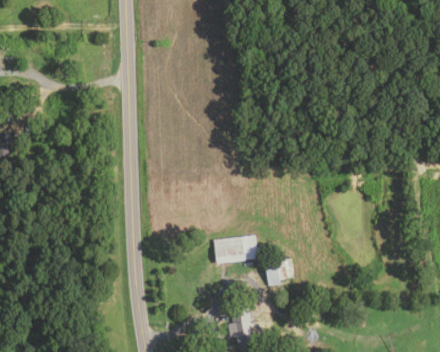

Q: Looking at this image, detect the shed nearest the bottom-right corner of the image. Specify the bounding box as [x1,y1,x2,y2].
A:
[268,259,295,288]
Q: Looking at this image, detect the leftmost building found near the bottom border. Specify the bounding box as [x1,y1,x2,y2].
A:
[228,310,252,339]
